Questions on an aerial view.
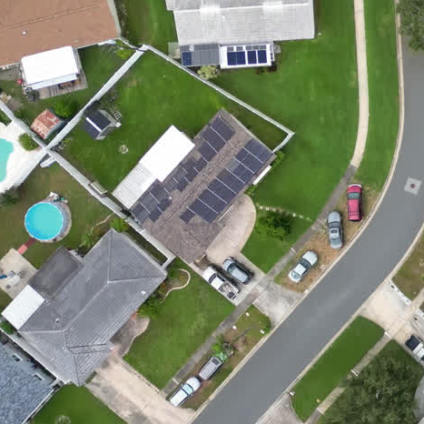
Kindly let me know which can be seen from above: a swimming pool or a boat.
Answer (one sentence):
It is a swimming pool that can be seen here.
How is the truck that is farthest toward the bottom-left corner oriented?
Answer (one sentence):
The truck that is farthest toward the bottom-left corner runs at an angle in the image.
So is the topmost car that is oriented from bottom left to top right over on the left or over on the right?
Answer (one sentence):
It is on the right.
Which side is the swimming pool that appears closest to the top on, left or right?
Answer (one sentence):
The swimming pool that appears closest to the top sits on the left side.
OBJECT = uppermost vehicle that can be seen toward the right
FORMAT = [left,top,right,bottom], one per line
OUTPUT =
[344,184,363,222]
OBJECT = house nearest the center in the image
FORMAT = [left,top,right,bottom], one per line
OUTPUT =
[113,108,277,265]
